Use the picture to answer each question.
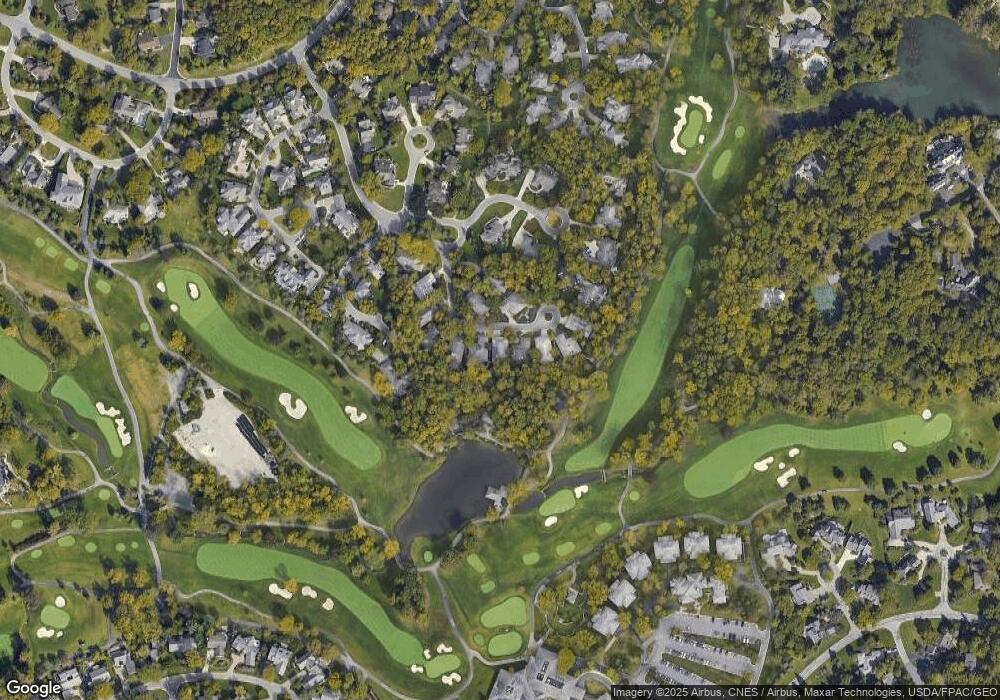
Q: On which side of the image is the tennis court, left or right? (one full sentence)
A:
The tennis court appears in the right half of the scene.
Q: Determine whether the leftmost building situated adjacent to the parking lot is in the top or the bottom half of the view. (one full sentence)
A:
The bottom half of the photo is where the leftmost building situated adjacent to the parking lot is.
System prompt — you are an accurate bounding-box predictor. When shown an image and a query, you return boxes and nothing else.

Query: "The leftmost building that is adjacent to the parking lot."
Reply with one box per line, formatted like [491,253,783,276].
[486,645,594,700]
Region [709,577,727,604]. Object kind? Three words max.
house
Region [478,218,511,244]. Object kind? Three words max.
house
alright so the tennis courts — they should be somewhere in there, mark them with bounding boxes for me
[812,285,837,323]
